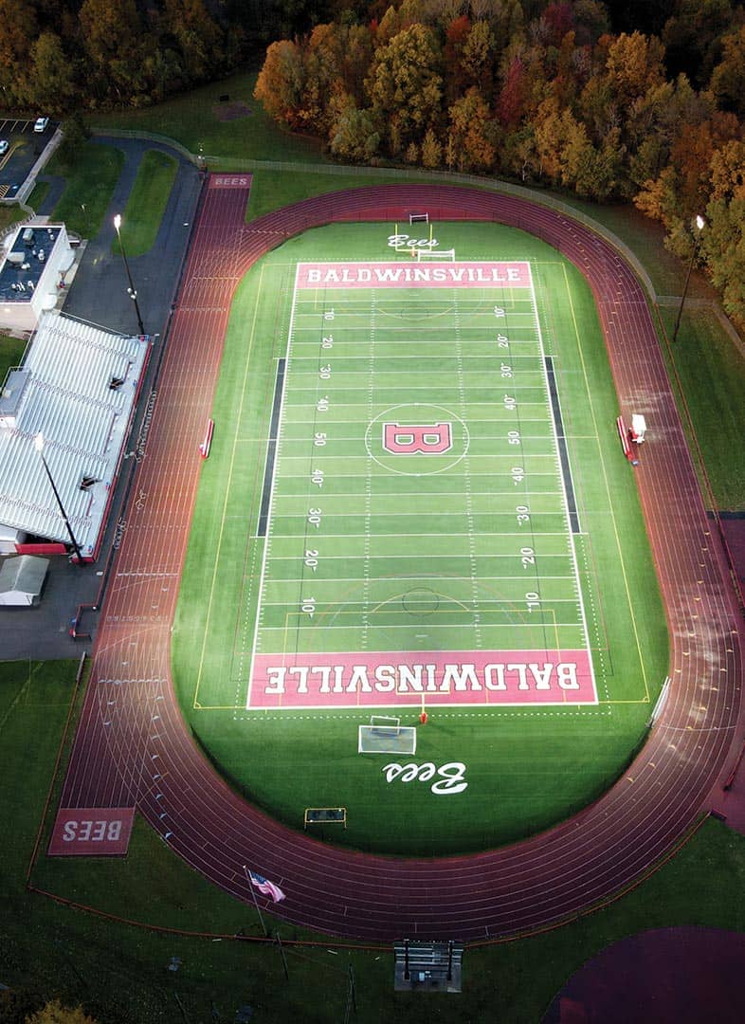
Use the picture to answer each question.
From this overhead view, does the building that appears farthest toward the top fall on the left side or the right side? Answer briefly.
left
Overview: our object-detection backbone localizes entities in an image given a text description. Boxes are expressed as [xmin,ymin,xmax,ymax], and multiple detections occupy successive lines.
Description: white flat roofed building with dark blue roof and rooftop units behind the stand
[0,226,68,328]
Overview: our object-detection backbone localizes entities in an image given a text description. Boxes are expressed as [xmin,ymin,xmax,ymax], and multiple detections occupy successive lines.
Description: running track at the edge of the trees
[43,174,745,944]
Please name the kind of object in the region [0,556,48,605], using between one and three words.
shed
